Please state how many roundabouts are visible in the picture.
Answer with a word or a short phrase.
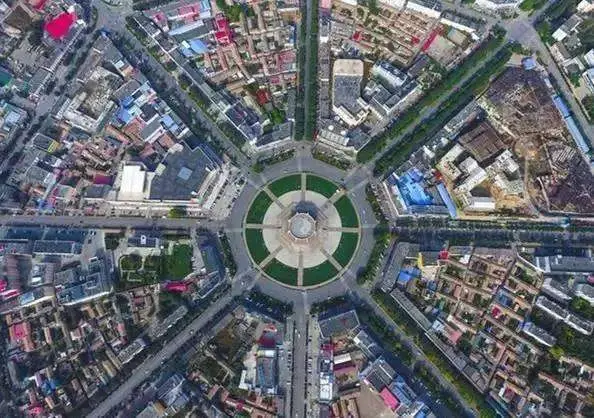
one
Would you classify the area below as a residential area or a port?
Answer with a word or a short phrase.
residential area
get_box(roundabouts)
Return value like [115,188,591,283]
[243,171,361,289]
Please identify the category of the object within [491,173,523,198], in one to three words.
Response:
house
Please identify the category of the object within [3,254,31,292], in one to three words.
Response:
building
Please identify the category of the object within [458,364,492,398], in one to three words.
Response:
building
